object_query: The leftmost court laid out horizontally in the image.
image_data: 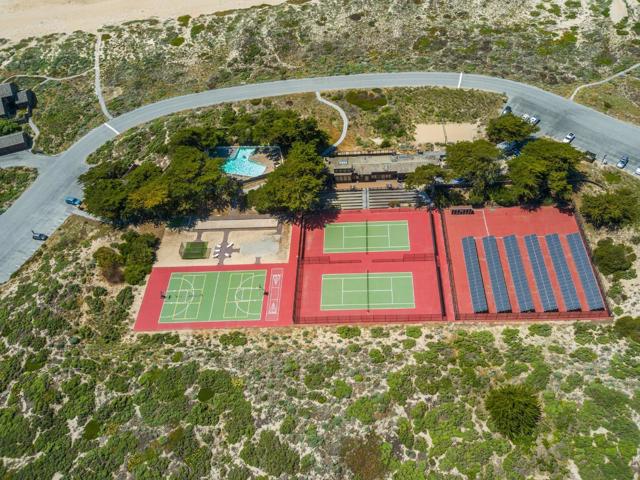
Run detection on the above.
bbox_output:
[134,262,299,332]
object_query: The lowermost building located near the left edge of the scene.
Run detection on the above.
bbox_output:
[0,129,32,162]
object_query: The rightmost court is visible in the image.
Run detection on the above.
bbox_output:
[444,204,615,322]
